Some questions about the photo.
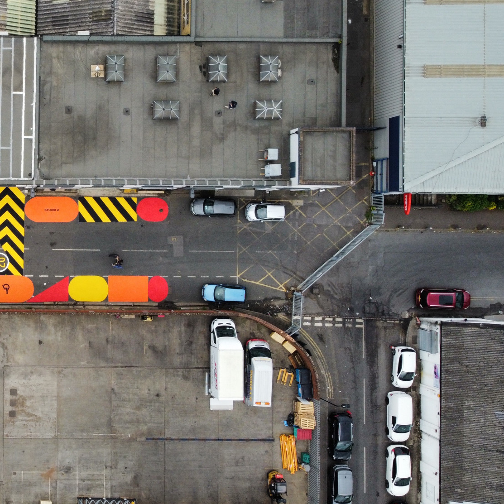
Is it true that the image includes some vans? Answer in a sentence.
Yes, this view includes a van.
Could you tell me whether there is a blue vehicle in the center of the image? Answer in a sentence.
Yes, in the center of the image there is a blue vehicle.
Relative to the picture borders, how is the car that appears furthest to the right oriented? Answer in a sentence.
In this picture, the car that appears furthest to the right is oriented horizontally.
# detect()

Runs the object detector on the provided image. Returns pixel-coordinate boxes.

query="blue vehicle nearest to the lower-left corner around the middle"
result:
[201,281,246,305]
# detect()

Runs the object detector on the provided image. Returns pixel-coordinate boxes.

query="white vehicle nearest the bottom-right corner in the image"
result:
[383,444,413,493]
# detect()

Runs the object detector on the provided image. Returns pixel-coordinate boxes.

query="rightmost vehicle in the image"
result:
[413,286,469,312]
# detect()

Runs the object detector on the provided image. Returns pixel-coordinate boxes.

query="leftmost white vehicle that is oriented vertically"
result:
[201,316,243,406]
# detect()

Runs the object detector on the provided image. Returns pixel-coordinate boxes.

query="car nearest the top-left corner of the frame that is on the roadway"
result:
[189,195,236,219]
